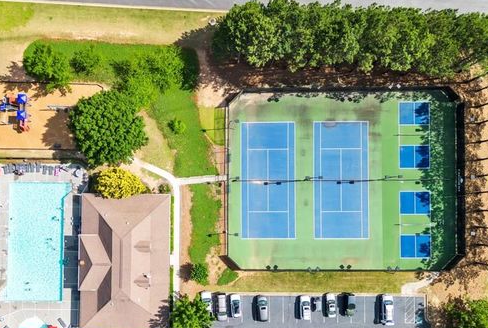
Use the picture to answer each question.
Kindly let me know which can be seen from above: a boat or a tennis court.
tennis court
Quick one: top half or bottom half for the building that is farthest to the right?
bottom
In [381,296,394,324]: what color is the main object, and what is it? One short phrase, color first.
white vehicle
